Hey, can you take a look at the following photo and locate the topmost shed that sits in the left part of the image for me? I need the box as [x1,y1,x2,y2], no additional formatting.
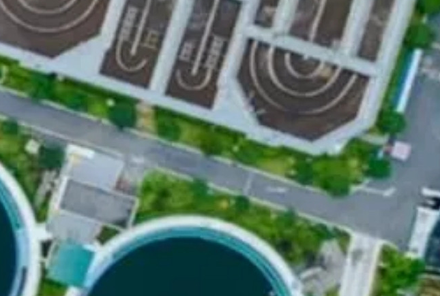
[63,145,124,191]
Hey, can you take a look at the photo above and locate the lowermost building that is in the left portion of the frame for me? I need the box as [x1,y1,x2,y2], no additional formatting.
[45,207,101,245]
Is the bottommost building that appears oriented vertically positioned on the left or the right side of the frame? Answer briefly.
right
